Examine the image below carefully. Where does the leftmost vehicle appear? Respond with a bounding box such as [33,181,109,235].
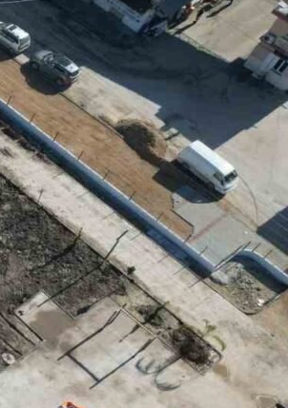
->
[0,19,35,56]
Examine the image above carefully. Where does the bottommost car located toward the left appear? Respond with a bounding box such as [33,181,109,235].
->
[32,49,89,87]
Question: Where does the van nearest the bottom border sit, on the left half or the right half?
right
